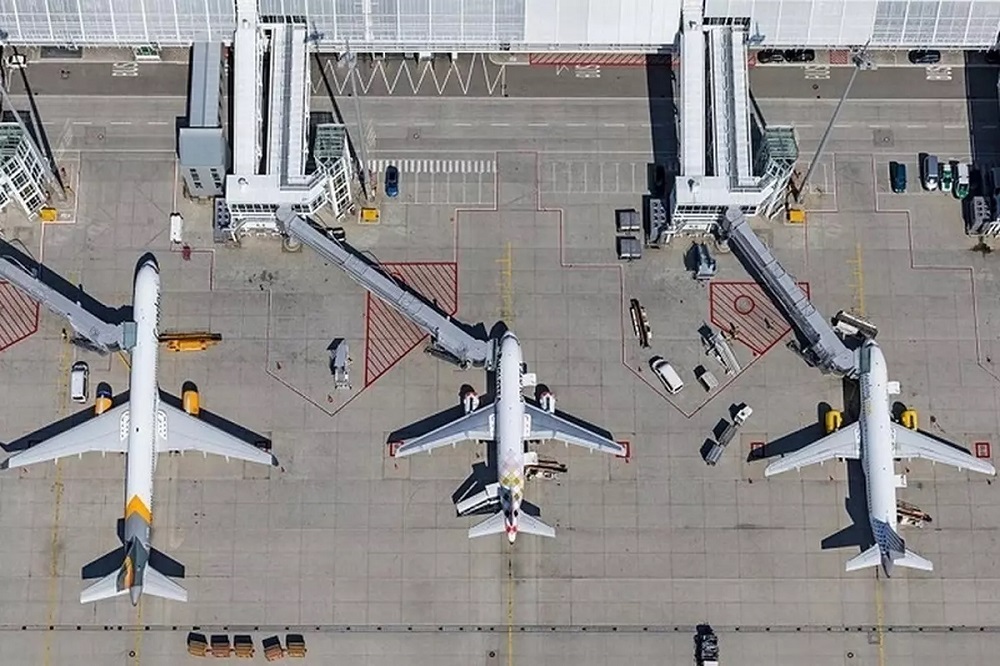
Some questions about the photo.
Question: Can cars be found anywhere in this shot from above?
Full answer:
Yes, a car appears in the view.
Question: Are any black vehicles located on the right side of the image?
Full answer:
Yes, on the right side of the image there is a black vehicle.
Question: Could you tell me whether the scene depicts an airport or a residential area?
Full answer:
The area seen from above is an airport.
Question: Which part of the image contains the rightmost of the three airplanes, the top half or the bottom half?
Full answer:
It is in the bottom half that the rightmost of the three airplanes appears.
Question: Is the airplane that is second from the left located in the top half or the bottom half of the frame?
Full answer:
Seen from above, the airplane that is second from the left lies in the bottom half of the view.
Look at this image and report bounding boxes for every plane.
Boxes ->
[394,332,627,541]
[0,256,276,604]
[761,339,997,573]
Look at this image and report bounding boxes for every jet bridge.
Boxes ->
[0,256,139,367]
[272,208,498,376]
[718,209,873,380]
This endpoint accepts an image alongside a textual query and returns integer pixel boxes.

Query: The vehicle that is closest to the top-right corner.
[912,49,942,67]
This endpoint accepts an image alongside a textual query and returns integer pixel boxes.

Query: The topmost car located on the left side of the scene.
[385,165,399,196]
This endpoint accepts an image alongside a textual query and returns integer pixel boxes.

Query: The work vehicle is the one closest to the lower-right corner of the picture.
[896,506,934,532]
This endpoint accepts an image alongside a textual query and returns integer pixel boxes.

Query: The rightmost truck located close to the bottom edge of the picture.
[699,631,721,666]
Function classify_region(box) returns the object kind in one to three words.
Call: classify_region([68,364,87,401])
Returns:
vehicle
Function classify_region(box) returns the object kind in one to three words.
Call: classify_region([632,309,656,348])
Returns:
work vehicle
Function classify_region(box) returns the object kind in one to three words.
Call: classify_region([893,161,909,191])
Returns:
car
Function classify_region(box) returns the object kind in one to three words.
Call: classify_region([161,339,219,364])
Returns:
work vehicle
